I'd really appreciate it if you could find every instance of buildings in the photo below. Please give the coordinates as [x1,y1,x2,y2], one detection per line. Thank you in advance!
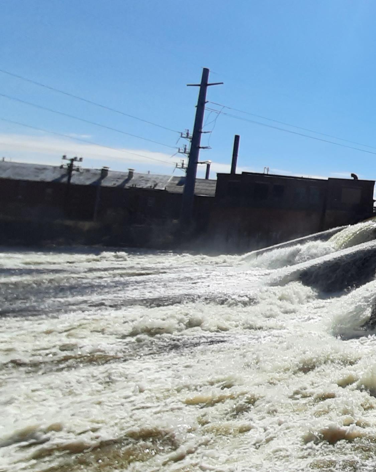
[0,157,185,238]
[213,134,376,254]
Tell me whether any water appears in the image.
Yes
